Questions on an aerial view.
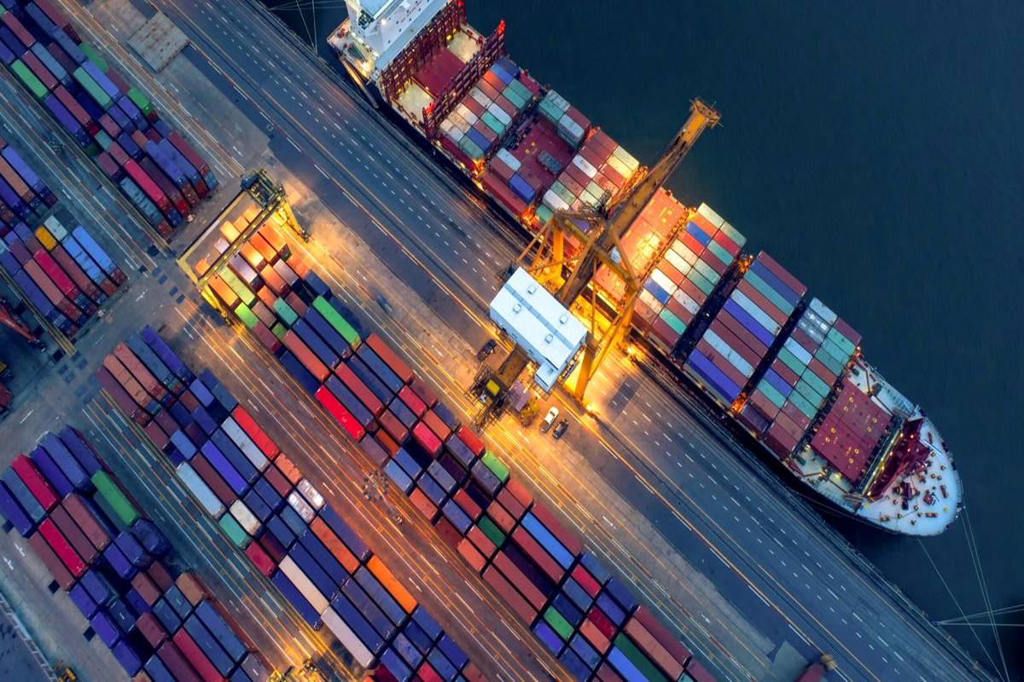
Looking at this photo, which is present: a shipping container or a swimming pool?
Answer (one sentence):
The image shows a shipping container.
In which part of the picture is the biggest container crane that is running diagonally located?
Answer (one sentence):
You can find the biggest container crane that is running diagonally in the center area of the picture.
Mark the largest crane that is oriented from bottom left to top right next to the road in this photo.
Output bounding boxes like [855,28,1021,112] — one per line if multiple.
[446,101,720,441]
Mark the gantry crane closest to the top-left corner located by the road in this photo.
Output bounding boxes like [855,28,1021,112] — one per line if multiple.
[173,174,328,343]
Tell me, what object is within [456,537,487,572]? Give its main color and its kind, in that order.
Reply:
red shipping container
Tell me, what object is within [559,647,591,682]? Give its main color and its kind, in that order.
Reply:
blue shipping container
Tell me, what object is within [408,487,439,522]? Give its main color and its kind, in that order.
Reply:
red shipping container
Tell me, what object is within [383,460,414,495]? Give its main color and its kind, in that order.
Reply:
blue shipping container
